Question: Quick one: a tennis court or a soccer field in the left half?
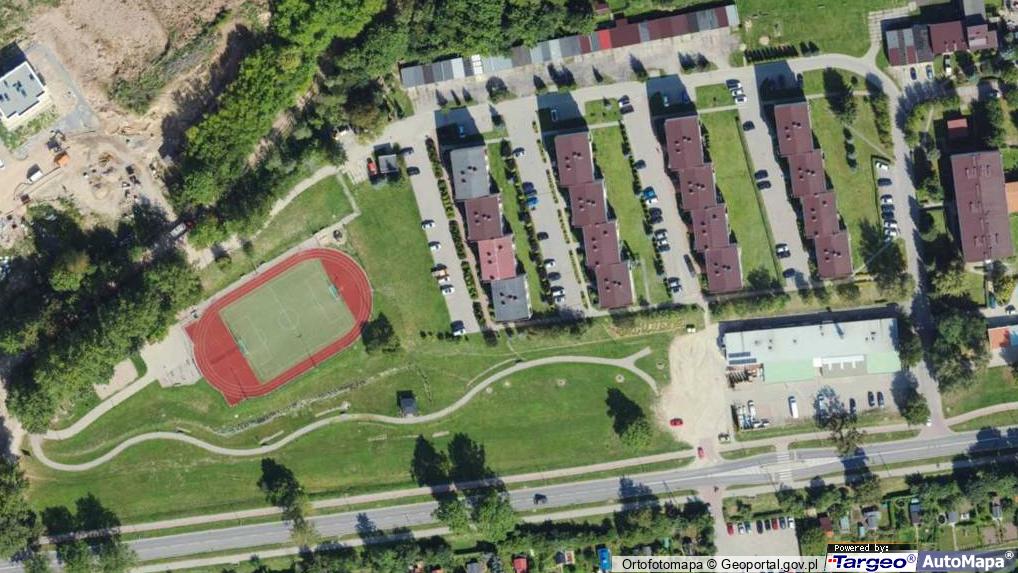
soccer field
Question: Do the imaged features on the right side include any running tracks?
No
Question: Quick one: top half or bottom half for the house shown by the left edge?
top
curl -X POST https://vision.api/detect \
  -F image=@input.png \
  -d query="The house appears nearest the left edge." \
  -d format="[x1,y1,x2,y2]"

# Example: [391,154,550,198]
[0,60,52,124]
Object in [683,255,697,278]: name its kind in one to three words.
vehicle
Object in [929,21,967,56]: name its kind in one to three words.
house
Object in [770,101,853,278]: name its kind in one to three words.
building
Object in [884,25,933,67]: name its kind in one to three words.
building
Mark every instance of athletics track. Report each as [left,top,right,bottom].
[184,247,374,408]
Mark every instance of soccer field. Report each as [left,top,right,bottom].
[220,259,356,384]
